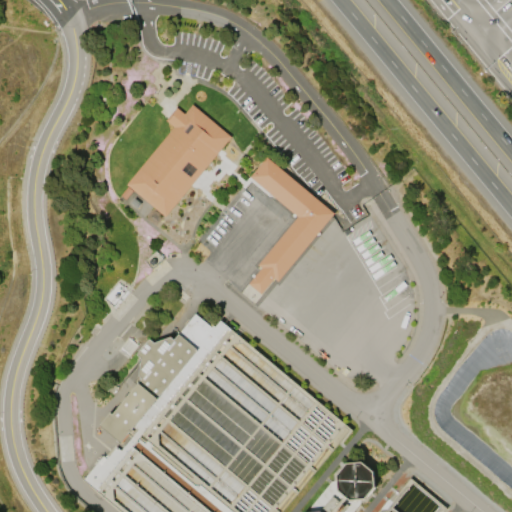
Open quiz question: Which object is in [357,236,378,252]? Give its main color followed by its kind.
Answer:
white vehicle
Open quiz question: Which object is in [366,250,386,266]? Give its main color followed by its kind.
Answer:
white vehicle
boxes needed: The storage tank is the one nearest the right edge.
[382,476,442,512]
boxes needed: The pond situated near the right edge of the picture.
[434,326,512,489]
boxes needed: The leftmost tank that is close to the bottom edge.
[338,462,374,500]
